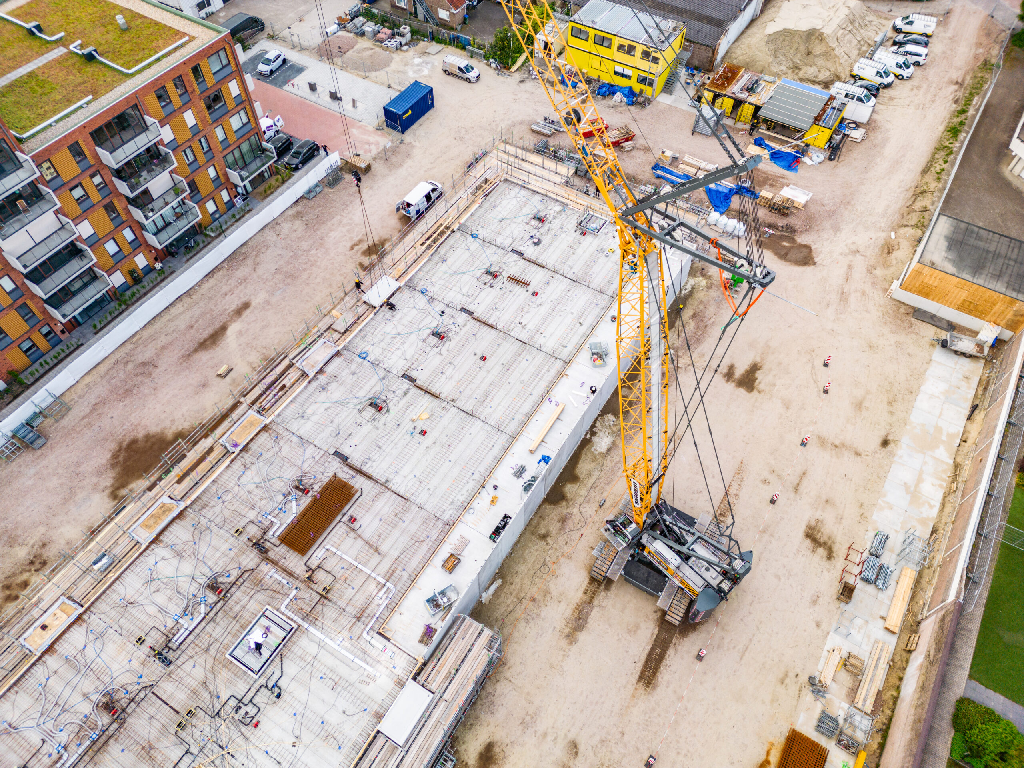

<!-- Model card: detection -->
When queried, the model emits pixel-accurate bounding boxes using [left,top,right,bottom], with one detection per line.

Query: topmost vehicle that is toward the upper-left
[218,13,261,37]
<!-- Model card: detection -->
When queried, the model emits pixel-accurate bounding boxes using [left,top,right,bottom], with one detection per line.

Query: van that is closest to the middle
[391,182,440,220]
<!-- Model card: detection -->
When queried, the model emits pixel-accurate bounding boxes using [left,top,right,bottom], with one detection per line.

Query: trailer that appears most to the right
[938,321,994,358]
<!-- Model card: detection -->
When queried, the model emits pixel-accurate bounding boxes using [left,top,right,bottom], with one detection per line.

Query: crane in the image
[496,0,829,627]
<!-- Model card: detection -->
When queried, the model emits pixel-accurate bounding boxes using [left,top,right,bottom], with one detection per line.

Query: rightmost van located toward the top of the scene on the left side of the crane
[443,53,480,81]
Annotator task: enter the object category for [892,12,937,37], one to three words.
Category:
vehicle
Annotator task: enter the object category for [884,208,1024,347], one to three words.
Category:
building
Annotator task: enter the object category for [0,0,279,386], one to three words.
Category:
building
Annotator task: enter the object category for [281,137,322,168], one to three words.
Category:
car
